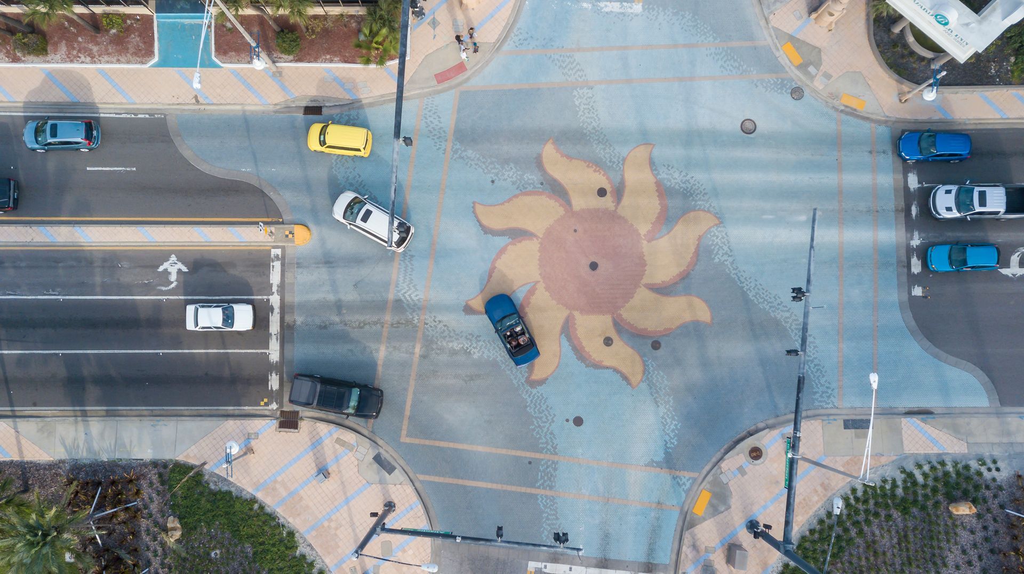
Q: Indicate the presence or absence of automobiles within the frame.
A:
Yes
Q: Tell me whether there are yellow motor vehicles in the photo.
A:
Yes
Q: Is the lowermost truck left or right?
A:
left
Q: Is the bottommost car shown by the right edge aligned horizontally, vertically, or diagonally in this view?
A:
horizontally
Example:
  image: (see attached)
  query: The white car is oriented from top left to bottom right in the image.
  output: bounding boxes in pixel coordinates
[336,194,413,251]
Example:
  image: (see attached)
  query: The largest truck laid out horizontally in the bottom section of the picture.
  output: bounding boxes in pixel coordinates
[285,374,386,423]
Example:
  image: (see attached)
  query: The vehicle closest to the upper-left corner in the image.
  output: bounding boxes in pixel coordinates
[25,117,102,153]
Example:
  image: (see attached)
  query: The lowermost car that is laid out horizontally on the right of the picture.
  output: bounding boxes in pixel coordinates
[925,240,1002,275]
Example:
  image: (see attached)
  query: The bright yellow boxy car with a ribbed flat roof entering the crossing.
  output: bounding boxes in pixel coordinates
[308,118,374,157]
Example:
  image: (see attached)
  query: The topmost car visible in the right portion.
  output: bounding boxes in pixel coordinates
[895,127,972,164]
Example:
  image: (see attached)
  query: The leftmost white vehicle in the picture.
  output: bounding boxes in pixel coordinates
[186,301,257,334]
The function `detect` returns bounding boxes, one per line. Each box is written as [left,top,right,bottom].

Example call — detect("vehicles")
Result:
[285,374,386,423]
[308,118,374,157]
[186,301,257,334]
[25,117,102,153]
[895,127,972,164]
[926,179,1024,223]
[336,194,413,251]
[413,0,426,22]
[925,240,1002,275]
[487,292,539,366]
